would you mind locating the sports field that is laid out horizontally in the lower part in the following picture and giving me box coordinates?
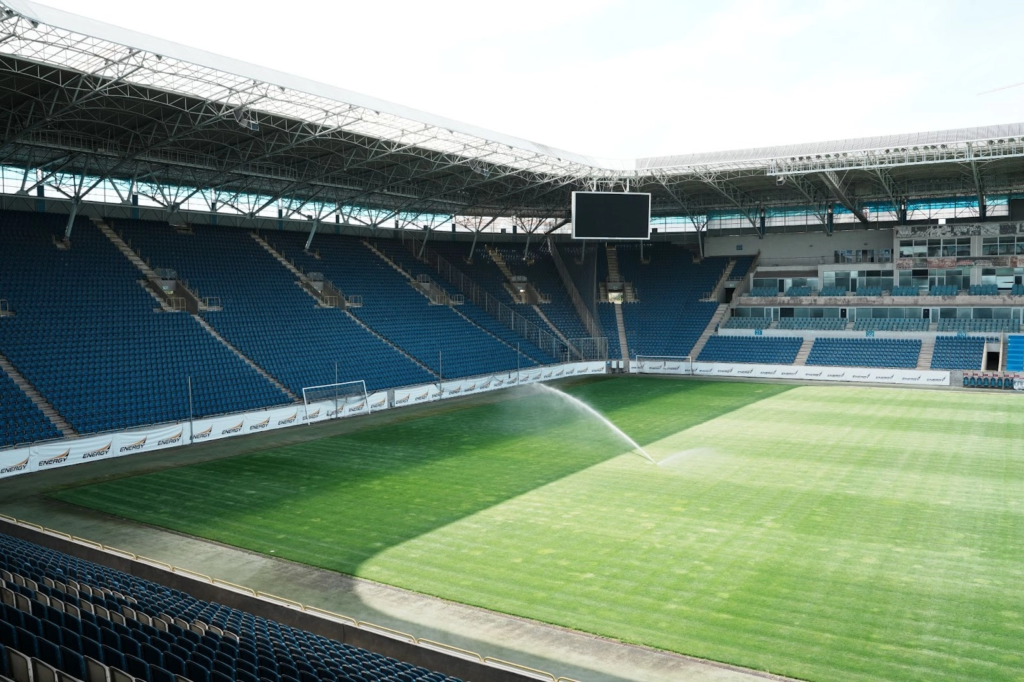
[42,376,1024,682]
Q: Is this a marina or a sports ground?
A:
sports ground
